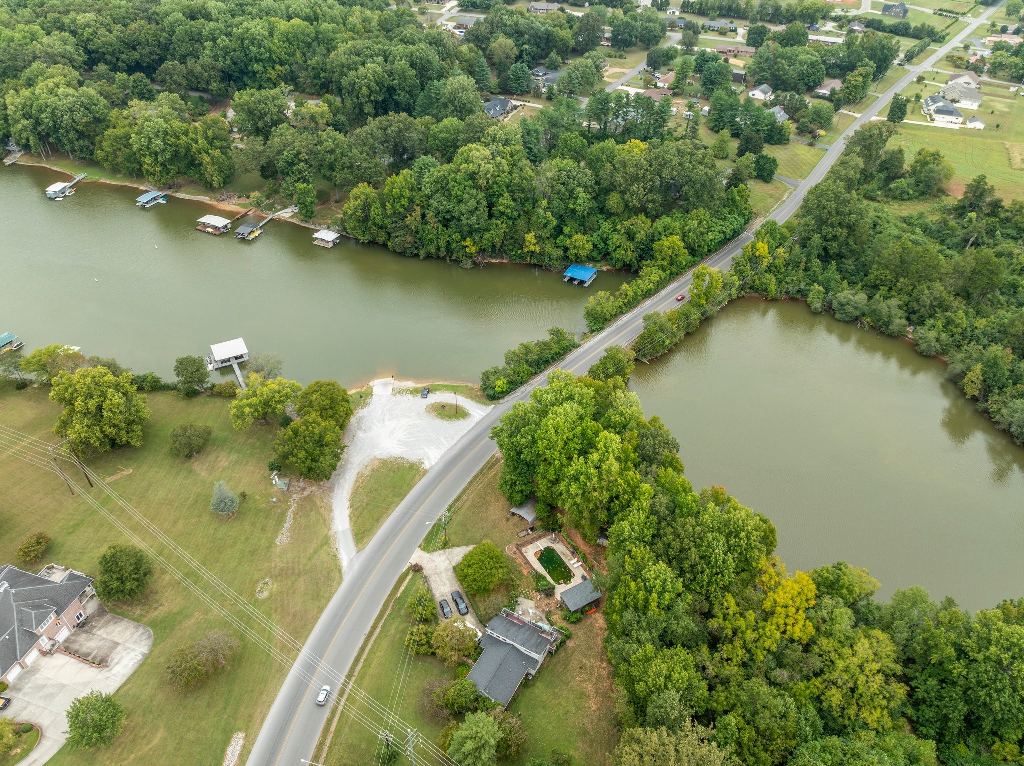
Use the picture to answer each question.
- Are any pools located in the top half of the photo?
No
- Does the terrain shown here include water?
Yes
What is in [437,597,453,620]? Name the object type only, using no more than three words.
car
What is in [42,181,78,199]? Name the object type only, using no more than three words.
pier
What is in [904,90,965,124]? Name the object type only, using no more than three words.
house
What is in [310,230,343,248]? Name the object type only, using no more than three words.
pier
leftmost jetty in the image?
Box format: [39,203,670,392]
[0,333,36,360]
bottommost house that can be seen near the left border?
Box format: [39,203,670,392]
[0,557,103,698]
